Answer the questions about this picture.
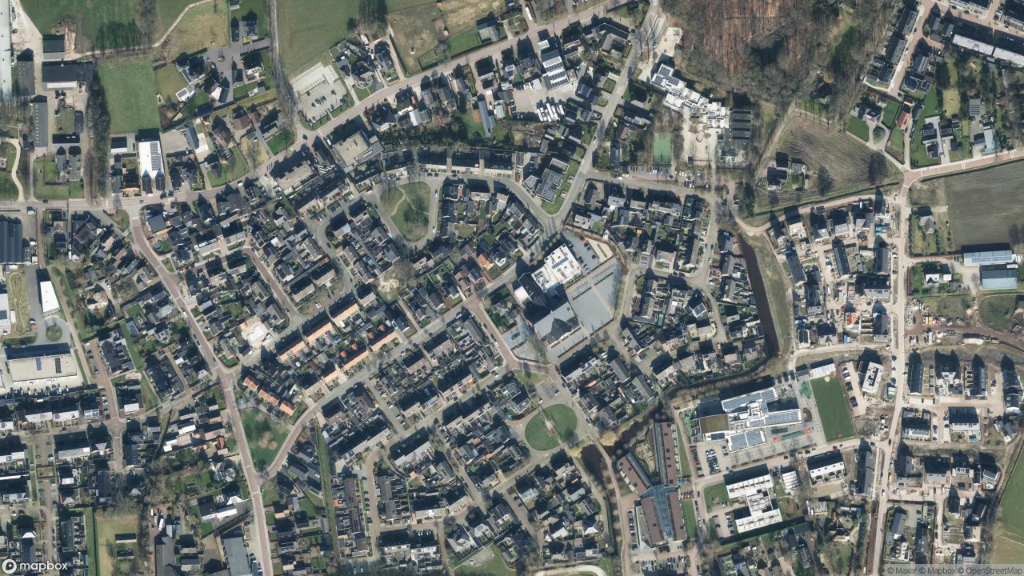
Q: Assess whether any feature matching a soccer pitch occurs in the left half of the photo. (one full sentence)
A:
No, there's no soccer pitch to be seen in the left half of the photo.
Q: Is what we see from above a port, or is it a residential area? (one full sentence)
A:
The area seen from above is a residential area.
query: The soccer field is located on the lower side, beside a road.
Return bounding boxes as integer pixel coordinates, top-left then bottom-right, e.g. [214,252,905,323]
[811,376,854,441]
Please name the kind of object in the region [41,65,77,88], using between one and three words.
barn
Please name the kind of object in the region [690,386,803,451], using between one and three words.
building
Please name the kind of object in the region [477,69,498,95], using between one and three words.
house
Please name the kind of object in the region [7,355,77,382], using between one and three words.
building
